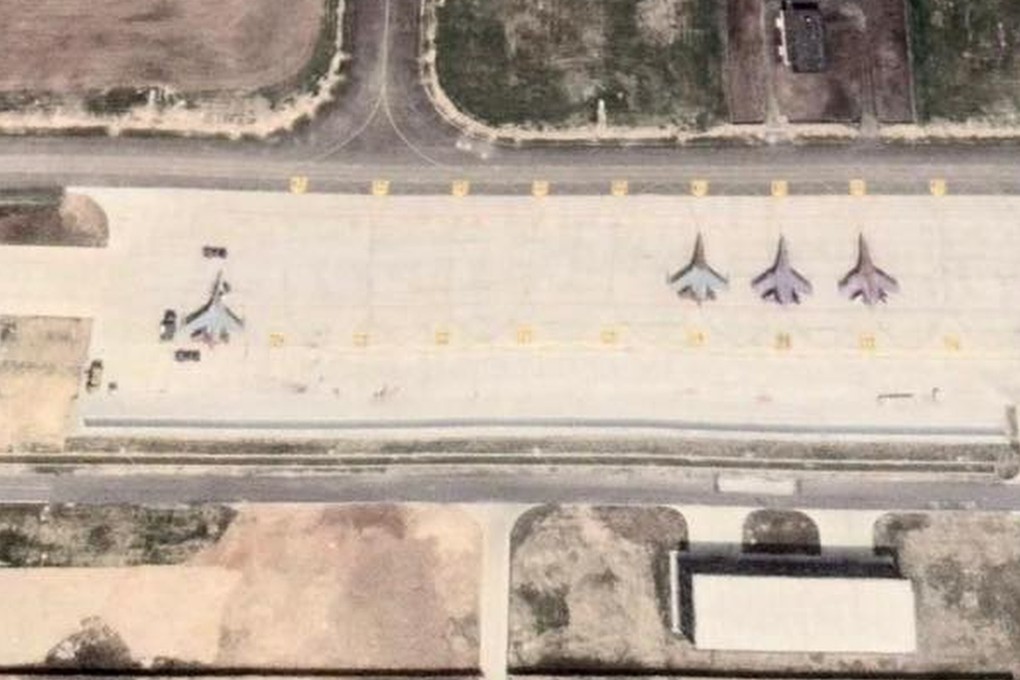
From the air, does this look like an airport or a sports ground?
airport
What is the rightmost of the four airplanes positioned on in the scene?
apron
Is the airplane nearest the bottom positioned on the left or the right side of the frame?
left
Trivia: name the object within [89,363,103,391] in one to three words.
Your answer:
vehicle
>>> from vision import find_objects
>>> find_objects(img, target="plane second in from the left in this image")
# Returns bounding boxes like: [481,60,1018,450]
[669,237,729,307]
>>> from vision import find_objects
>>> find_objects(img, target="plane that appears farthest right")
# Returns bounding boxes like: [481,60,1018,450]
[840,237,899,307]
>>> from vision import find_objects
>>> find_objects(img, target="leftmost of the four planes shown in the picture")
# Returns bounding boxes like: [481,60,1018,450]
[180,276,242,349]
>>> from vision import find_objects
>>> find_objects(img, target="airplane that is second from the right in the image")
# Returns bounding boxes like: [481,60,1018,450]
[754,235,813,308]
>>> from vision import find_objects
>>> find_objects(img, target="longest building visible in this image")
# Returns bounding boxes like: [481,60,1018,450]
[693,573,915,651]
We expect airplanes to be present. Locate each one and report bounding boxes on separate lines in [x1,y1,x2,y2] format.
[669,237,729,307]
[840,237,899,307]
[180,276,242,349]
[754,235,813,308]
